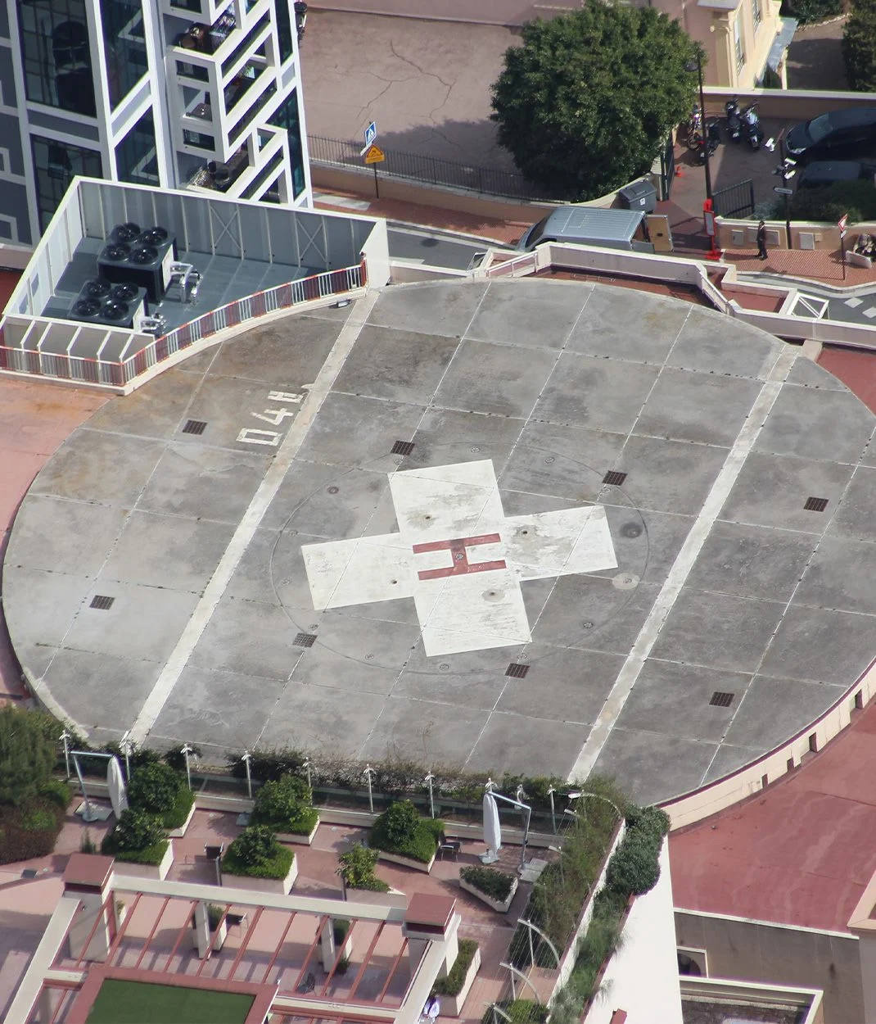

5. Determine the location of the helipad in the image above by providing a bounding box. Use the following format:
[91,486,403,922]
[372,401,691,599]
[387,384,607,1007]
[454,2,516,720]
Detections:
[1,279,876,837]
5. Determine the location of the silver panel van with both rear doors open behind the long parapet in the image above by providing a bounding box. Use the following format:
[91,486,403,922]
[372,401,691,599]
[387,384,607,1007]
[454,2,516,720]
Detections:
[510,203,671,254]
